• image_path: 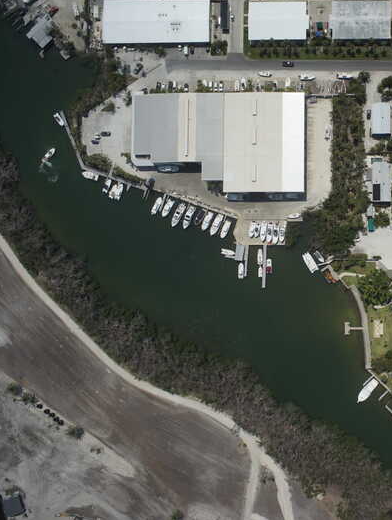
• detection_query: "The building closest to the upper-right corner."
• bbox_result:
[331,1,390,40]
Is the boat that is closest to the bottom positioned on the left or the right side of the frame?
right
